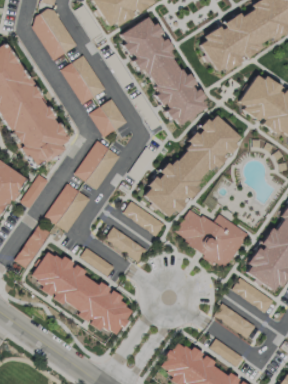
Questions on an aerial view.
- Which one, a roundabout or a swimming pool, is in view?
swimming pool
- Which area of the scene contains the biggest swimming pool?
right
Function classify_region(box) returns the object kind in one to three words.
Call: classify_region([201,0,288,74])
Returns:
building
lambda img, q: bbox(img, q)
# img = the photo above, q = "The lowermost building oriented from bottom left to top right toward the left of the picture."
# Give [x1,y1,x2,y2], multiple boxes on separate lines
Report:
[15,226,51,268]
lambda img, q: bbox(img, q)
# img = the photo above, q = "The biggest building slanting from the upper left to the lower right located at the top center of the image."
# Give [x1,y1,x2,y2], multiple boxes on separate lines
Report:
[120,17,207,122]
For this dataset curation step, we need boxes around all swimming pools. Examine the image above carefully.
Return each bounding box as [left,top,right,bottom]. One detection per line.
[213,155,285,225]
[218,187,228,197]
